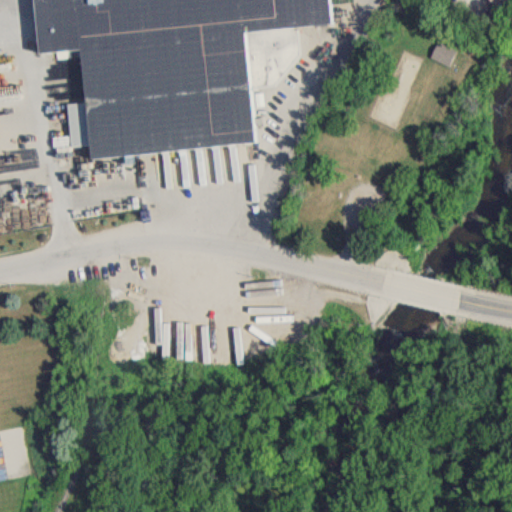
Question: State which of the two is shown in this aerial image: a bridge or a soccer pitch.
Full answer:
Visible in the photo is a bridge.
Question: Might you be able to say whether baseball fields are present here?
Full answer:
No, this view has no baseball field in it.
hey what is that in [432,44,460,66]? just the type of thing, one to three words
house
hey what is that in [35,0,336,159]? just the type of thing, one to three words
warehouse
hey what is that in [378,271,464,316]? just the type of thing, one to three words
bridge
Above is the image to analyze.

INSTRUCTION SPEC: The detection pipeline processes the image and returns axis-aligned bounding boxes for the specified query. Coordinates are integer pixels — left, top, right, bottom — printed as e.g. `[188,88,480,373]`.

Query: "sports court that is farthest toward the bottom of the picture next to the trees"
[0,426,32,478]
